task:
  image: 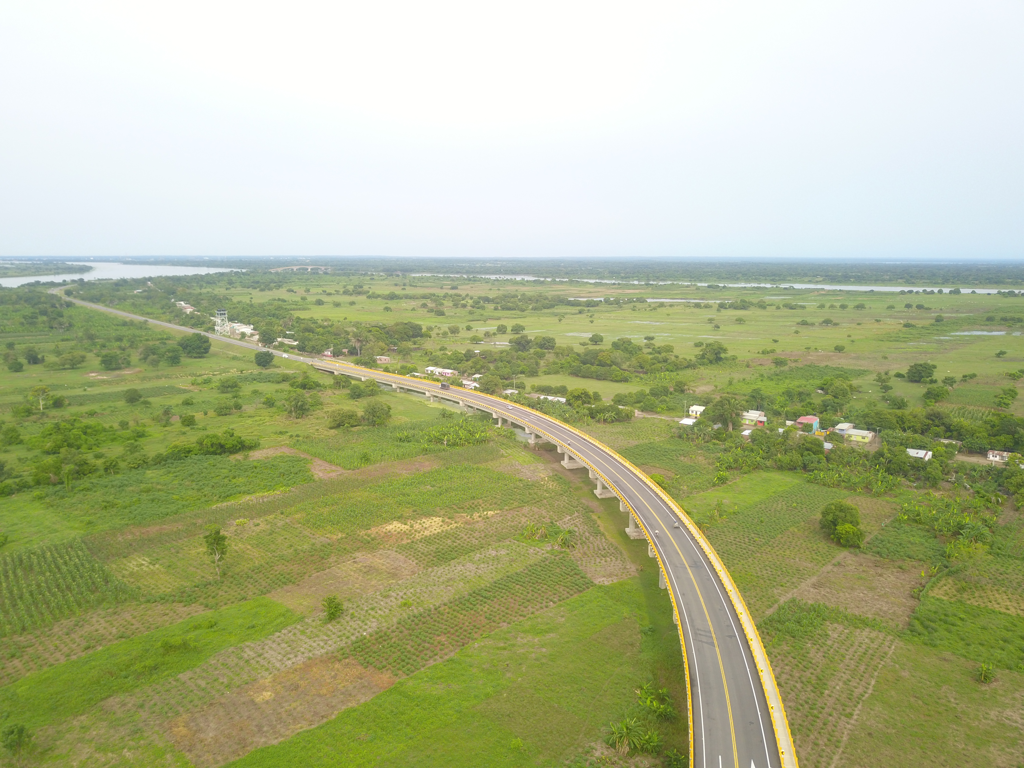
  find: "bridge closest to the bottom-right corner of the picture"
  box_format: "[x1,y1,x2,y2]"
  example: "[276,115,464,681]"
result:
[300,359,807,768]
